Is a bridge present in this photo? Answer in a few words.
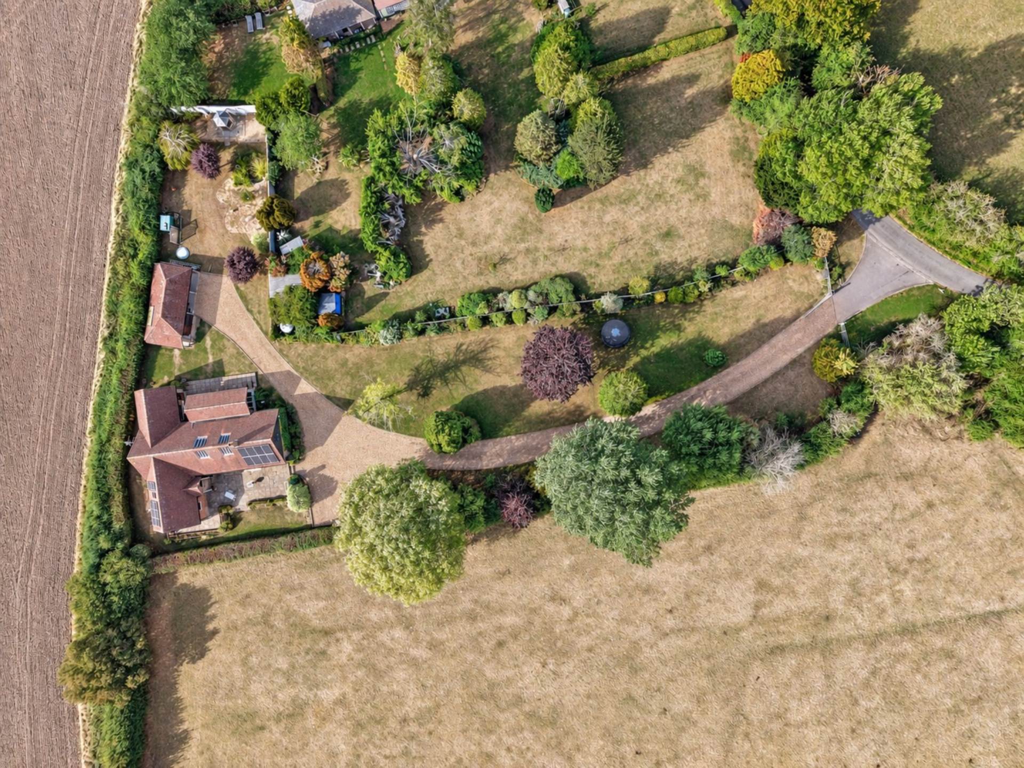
No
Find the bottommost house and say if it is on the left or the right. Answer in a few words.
left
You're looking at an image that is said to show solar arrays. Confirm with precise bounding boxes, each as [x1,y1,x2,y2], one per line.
[150,500,161,527]
[236,443,280,468]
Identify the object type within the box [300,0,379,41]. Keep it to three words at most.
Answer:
house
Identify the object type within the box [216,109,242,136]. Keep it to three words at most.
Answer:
gazebo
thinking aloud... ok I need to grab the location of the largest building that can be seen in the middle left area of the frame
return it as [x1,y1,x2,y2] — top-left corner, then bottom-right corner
[126,385,289,530]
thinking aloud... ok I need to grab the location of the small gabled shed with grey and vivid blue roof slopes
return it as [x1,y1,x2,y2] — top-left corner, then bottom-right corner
[319,293,344,315]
